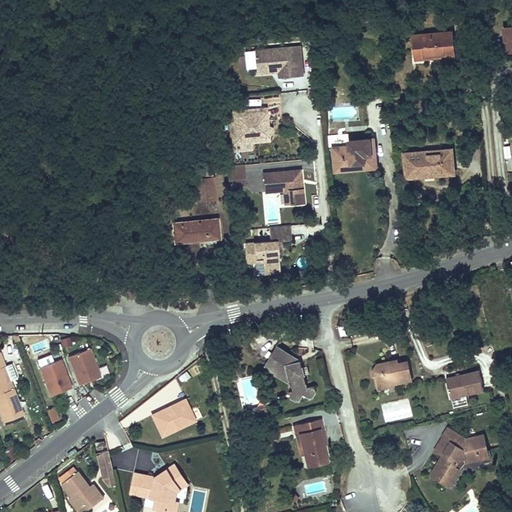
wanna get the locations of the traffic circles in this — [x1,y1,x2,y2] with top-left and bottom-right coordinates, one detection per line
[127,311,190,374]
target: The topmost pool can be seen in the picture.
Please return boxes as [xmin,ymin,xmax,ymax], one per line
[331,105,359,120]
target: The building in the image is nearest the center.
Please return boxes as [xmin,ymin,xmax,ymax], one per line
[244,241,282,274]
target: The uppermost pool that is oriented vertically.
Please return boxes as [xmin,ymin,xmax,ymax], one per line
[268,199,280,224]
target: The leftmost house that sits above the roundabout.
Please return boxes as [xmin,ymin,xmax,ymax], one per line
[174,218,222,245]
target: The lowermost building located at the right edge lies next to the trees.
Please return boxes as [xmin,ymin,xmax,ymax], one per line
[430,426,490,488]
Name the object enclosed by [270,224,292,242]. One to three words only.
shed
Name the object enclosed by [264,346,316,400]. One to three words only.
house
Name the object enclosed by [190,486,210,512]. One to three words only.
swimming pool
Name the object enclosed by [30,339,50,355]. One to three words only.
swimming pool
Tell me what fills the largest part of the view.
trees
